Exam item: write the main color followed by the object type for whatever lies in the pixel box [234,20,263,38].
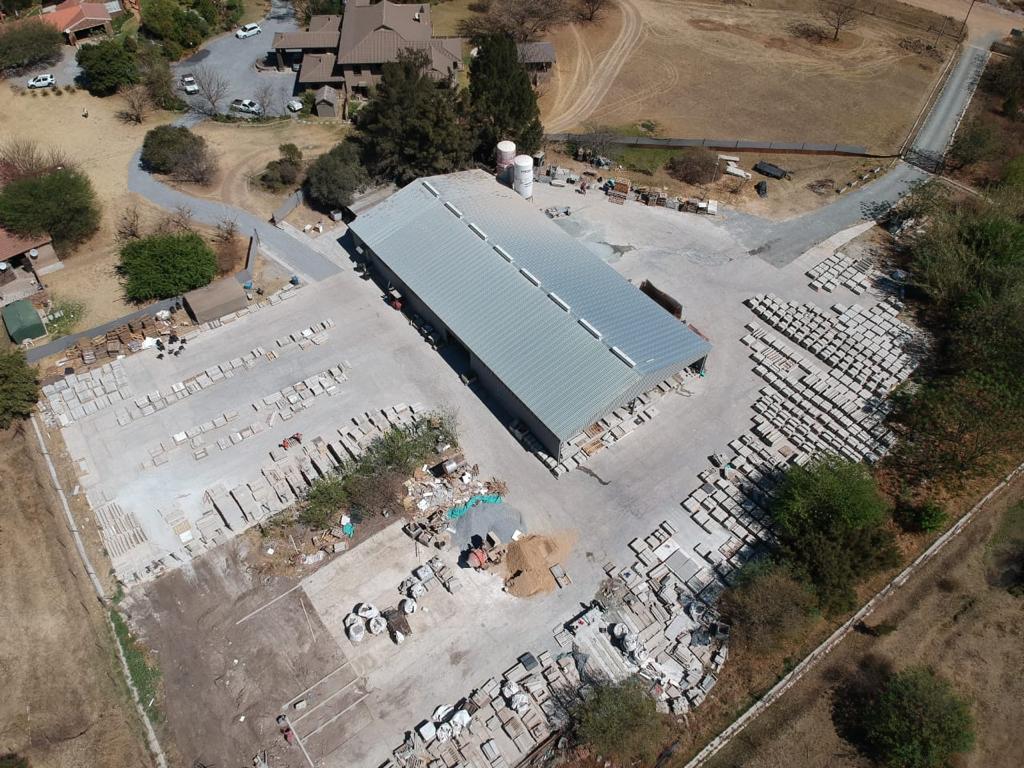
white car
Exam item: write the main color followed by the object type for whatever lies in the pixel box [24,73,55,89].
white car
